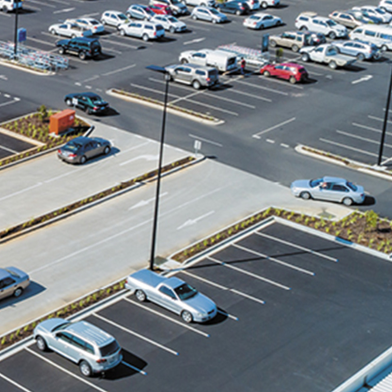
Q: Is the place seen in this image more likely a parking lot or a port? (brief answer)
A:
parking lot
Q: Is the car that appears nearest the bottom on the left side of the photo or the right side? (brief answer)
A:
left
